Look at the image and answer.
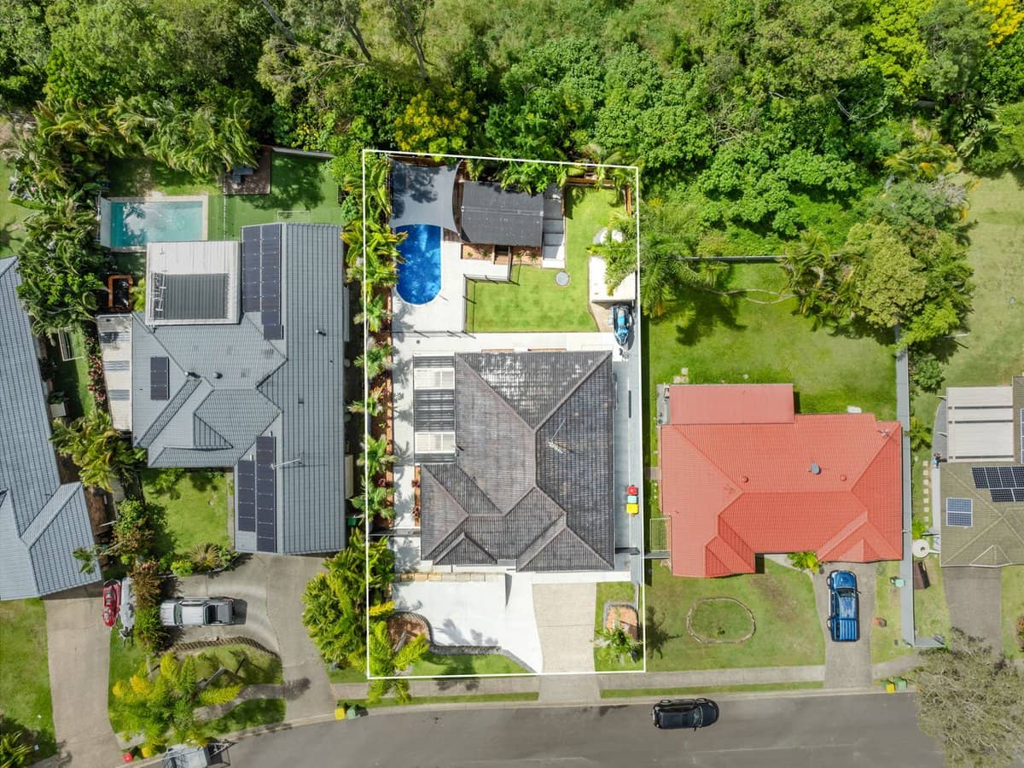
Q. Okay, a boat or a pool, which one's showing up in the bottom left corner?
boat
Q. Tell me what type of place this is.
residential area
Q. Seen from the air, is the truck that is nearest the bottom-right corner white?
No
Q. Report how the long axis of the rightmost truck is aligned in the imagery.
up and down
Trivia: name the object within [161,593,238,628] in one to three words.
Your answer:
truck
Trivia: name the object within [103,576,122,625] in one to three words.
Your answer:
boat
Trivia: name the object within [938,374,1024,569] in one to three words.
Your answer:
house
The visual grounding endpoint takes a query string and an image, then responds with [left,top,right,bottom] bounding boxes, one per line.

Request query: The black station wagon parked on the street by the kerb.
[651,696,717,732]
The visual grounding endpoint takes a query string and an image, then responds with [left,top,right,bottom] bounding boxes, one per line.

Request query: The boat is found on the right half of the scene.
[613,303,631,350]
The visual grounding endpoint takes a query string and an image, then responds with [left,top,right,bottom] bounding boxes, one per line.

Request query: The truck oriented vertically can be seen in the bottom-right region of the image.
[823,567,860,643]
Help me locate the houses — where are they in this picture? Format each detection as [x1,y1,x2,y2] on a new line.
[661,383,903,578]
[420,350,616,574]
[938,374,1024,569]
[129,221,345,555]
[0,257,114,608]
